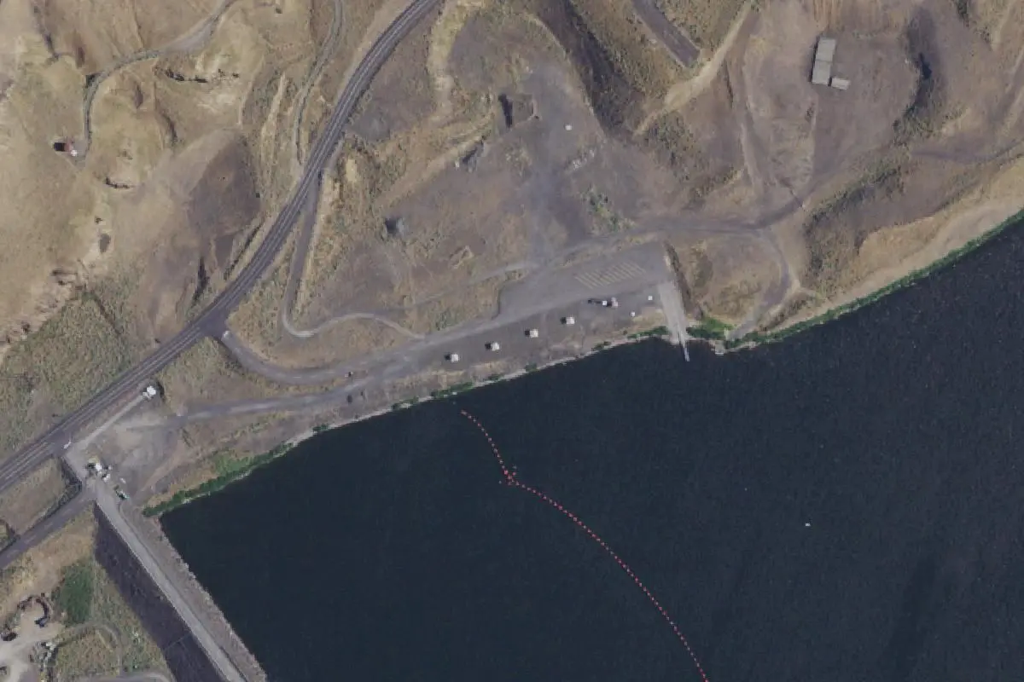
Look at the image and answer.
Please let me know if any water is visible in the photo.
Yes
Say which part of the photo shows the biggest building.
top right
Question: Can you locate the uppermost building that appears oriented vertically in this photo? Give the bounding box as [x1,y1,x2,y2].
[813,36,837,84]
